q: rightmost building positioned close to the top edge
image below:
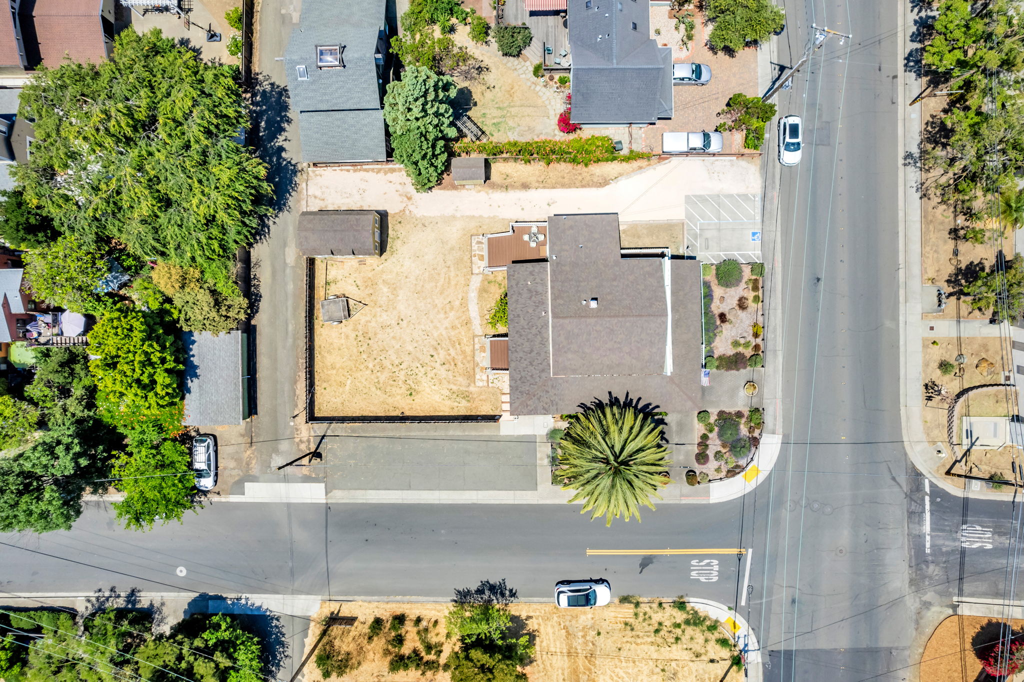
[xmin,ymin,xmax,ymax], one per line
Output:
[567,0,673,129]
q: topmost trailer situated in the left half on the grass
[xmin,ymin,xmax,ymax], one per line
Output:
[320,293,366,324]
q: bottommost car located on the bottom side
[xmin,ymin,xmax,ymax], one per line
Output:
[555,579,611,608]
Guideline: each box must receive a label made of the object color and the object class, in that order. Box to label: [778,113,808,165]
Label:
white car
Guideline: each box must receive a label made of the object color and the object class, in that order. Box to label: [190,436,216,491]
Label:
white car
